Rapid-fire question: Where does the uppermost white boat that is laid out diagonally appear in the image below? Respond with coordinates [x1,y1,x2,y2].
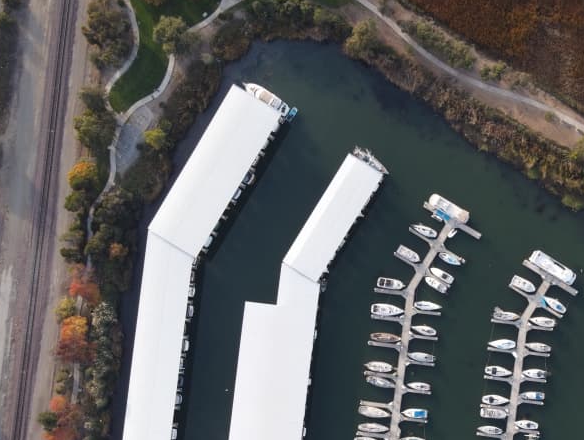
[240,80,290,120]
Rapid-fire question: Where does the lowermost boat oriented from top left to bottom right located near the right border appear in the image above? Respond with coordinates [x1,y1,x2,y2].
[545,297,567,315]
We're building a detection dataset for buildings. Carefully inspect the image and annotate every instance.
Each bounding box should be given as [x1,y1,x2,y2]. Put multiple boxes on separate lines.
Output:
[122,84,282,440]
[229,153,384,440]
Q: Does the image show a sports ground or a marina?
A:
marina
